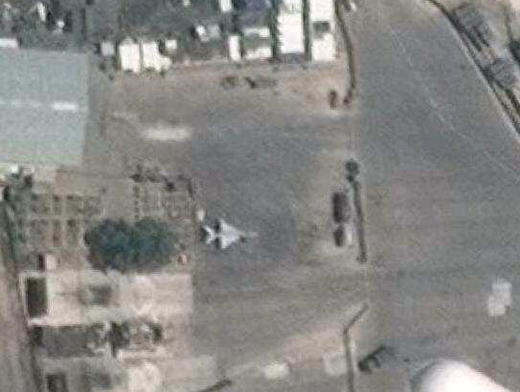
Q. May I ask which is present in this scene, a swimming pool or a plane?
plane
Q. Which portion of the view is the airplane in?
center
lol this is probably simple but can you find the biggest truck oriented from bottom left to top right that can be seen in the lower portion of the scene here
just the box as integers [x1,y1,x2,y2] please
[360,346,387,370]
